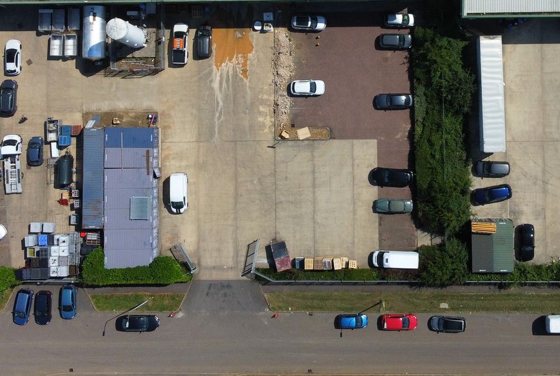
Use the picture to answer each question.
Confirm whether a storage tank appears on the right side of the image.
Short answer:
No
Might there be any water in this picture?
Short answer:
No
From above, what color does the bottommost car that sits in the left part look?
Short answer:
black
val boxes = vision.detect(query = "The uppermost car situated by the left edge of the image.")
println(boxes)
[3,40,23,76]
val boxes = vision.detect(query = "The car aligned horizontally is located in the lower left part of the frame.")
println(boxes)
[117,314,160,334]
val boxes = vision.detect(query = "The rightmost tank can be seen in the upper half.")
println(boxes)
[108,19,154,51]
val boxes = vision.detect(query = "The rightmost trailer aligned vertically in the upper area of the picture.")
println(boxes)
[476,36,505,152]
